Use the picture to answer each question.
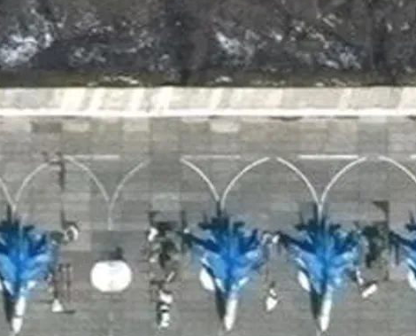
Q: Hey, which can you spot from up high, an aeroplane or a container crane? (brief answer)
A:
aeroplane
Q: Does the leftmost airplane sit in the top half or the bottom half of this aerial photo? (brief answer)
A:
bottom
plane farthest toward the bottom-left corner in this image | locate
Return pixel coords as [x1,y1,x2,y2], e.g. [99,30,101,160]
[0,215,53,332]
